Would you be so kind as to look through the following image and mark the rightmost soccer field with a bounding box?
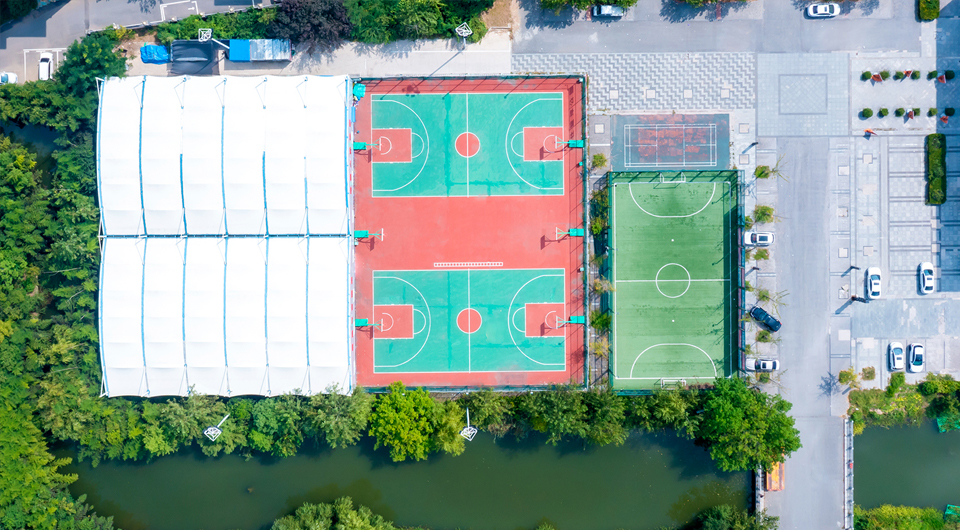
[606,170,741,389]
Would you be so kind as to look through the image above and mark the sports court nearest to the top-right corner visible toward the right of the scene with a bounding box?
[610,114,730,171]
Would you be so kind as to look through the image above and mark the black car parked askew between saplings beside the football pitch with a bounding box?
[752,306,784,334]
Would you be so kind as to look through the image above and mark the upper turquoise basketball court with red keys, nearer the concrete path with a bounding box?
[372,92,564,197]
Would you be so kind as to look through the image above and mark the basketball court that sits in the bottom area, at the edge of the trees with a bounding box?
[374,267,565,373]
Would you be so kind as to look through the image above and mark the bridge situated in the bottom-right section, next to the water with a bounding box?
[756,419,854,530]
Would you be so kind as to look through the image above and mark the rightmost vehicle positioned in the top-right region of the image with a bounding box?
[807,2,841,17]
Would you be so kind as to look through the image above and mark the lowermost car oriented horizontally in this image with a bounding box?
[747,358,781,373]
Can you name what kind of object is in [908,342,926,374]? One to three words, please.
car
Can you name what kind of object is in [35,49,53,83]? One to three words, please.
car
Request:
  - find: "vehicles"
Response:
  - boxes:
[888,342,906,372]
[919,262,937,295]
[0,69,15,84]
[747,358,781,373]
[807,2,841,17]
[866,267,884,300]
[752,306,784,334]
[908,342,926,374]
[35,49,53,83]
[592,4,625,18]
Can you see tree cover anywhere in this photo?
Yes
